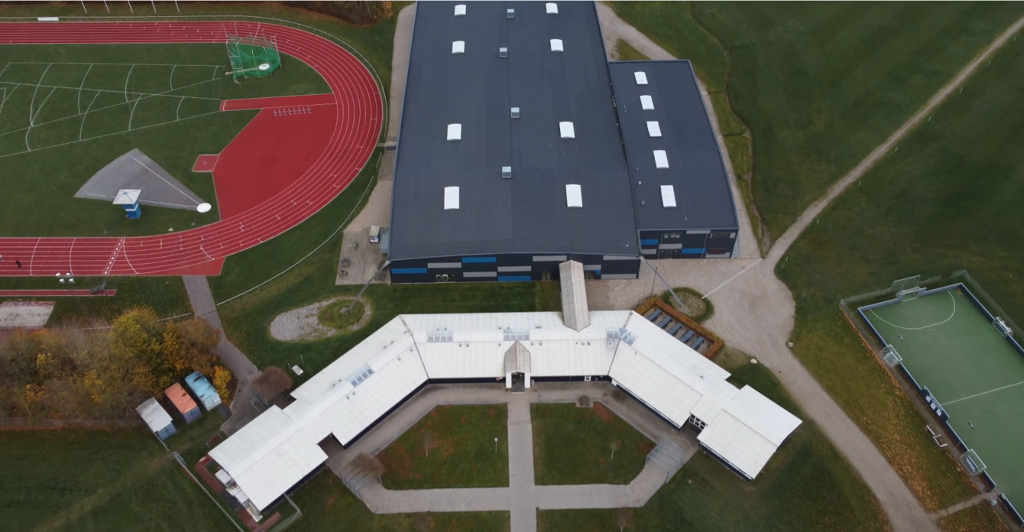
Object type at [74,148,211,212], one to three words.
sports field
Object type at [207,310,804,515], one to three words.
building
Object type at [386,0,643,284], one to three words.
building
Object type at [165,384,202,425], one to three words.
shipping container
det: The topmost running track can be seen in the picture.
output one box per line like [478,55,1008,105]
[0,20,384,276]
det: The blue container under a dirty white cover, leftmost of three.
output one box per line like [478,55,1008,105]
[142,400,182,444]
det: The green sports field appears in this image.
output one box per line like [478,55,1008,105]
[0,42,335,237]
